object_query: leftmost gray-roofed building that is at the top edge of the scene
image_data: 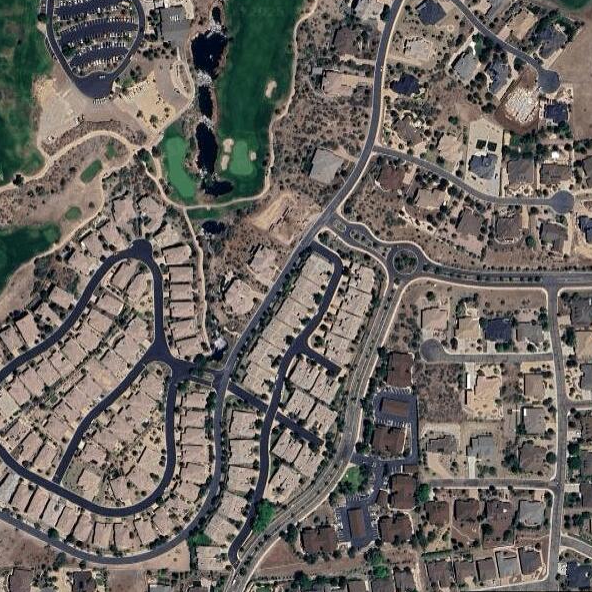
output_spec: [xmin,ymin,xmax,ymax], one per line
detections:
[158,7,190,46]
